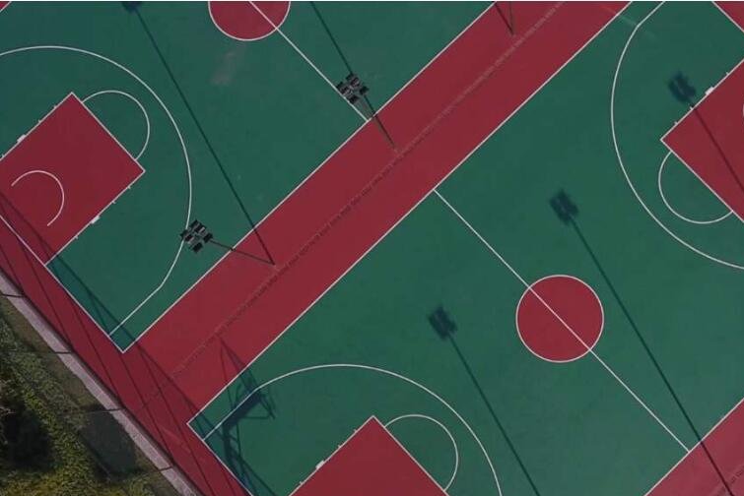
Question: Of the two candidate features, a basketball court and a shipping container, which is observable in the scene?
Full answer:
There is a basketball court in the scene.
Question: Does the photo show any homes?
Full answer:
No, I can see no home in this picture.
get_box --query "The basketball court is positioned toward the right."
[188,0,744,496]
